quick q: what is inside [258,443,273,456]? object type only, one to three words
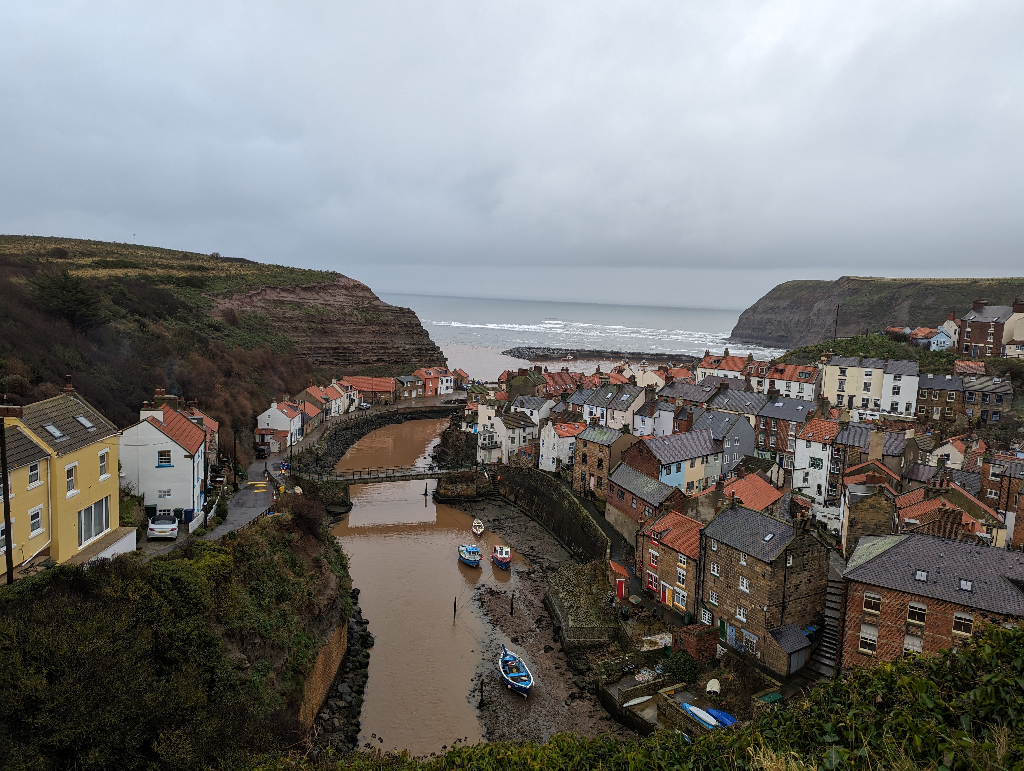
vehicle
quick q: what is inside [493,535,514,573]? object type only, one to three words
boat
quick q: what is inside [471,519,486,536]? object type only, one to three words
boat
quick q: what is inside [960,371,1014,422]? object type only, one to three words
house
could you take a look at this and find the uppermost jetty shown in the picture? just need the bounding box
[530,349,701,367]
